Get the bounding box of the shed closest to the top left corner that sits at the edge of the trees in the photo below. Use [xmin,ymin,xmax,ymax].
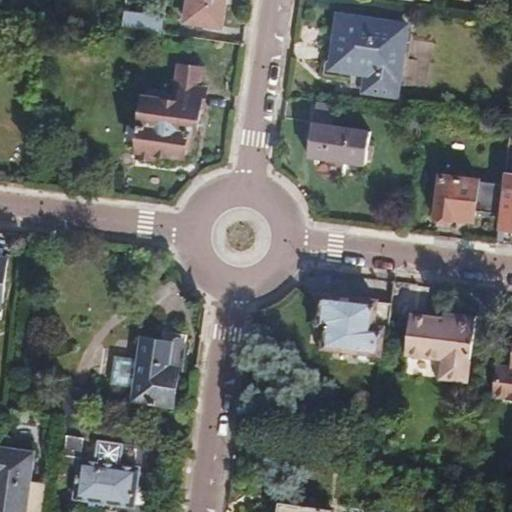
[122,11,164,32]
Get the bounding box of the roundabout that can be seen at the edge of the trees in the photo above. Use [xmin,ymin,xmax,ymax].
[172,168,310,304]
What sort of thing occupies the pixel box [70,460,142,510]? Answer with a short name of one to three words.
house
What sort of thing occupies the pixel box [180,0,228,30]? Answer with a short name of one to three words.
house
